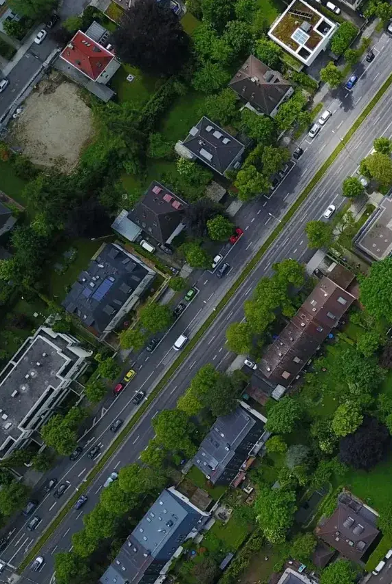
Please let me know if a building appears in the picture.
Yes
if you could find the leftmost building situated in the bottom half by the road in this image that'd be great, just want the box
[0,325,101,468]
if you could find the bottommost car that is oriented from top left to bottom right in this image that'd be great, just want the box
[242,357,258,370]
